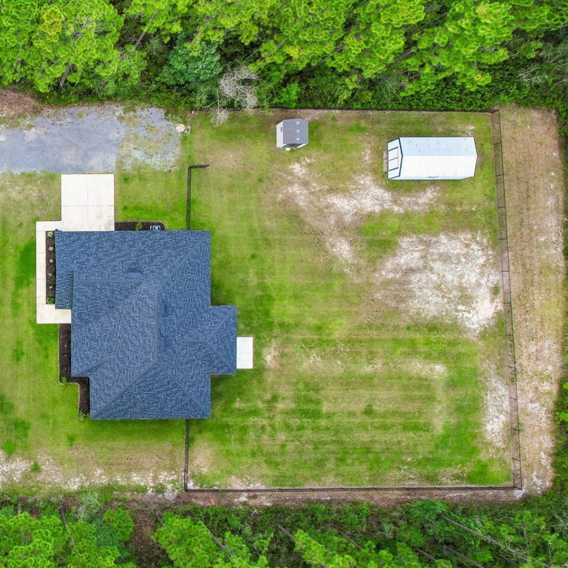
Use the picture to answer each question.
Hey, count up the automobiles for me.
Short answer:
0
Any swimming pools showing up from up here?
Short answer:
No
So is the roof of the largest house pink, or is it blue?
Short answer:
blue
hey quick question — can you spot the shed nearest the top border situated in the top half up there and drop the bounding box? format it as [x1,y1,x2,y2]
[277,118,309,148]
